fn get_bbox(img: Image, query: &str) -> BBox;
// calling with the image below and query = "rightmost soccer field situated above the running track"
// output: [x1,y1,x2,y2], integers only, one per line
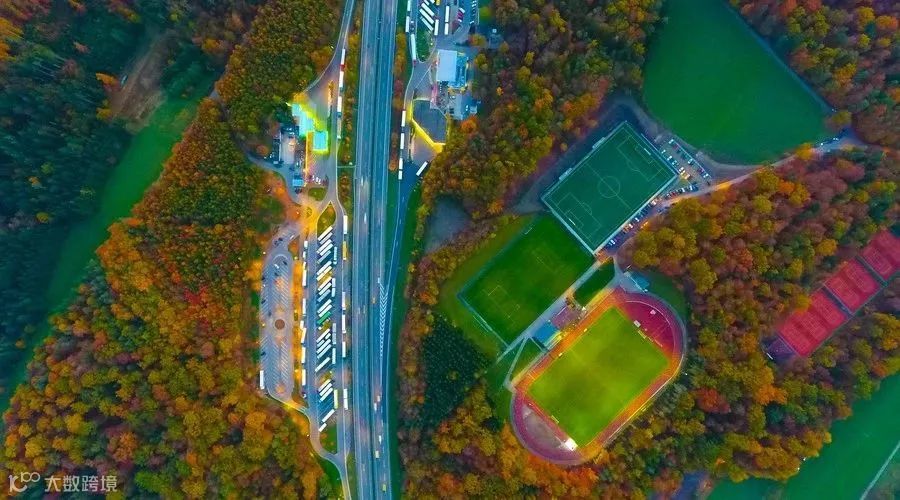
[541,120,679,254]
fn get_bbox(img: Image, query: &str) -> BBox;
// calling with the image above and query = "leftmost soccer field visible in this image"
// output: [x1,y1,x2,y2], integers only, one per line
[460,214,595,348]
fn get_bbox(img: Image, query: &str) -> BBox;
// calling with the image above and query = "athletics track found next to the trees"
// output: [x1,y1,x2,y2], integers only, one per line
[512,294,686,465]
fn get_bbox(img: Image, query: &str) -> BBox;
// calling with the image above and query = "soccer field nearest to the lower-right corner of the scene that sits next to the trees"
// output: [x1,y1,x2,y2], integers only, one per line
[529,311,669,448]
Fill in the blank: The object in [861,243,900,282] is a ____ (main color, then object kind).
red tennis court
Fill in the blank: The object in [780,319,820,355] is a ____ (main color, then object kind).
red tennis court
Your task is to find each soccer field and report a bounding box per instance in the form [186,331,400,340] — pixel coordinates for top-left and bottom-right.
[541,120,679,254]
[529,311,669,448]
[460,214,595,348]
